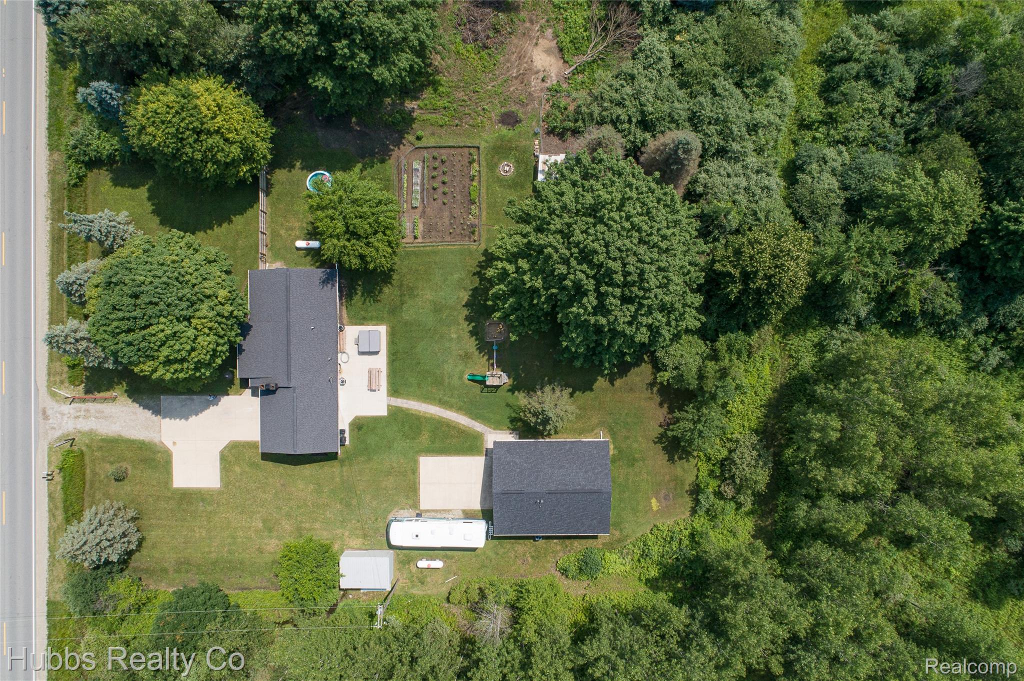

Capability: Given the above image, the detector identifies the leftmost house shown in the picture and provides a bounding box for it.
[238,266,345,455]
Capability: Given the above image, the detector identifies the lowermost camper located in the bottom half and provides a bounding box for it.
[387,516,487,550]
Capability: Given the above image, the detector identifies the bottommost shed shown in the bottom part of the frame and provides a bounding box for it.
[340,551,393,591]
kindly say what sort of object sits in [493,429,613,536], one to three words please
building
